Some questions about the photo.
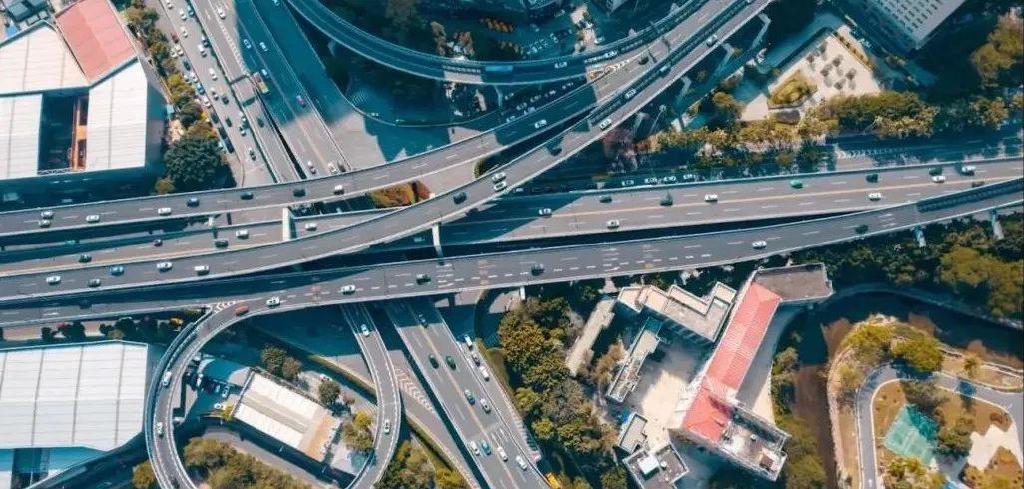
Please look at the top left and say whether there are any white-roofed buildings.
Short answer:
Yes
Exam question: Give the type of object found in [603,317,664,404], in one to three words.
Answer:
building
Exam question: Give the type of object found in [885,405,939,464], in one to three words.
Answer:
sports court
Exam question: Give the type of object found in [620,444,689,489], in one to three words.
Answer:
building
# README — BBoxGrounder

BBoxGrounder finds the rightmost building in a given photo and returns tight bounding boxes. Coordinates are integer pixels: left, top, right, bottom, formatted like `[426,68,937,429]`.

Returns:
[851,0,967,63]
